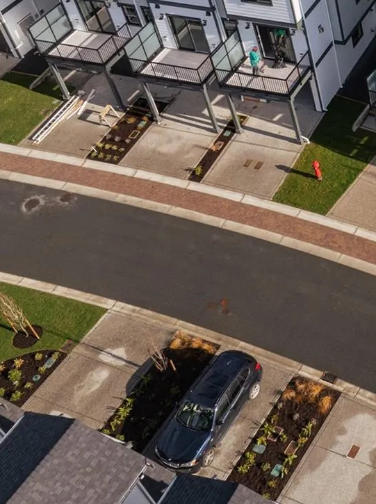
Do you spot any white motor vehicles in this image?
No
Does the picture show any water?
No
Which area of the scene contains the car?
bottom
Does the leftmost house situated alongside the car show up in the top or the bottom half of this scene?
bottom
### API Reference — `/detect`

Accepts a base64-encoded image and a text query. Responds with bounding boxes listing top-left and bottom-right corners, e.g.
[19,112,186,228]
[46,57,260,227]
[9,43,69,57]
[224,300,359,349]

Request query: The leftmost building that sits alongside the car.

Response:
[0,419,168,504]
